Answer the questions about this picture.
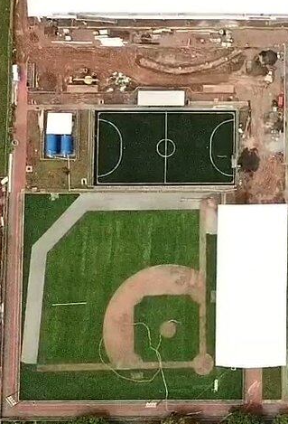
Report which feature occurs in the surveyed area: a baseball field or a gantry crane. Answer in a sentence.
Looking from above, you can make out a baseball field.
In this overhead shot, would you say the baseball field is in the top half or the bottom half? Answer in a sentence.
The baseball field is in the bottom half of the image.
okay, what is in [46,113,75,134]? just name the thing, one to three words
building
